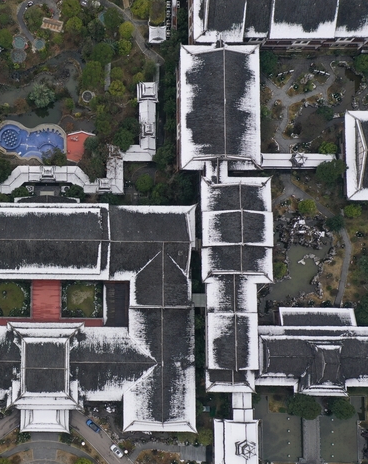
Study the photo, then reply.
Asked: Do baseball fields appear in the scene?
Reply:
No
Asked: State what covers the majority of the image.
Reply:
buildings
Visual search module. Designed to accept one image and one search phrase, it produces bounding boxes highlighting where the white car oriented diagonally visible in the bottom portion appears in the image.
[109,442,124,459]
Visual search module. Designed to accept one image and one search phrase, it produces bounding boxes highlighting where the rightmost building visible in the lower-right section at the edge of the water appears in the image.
[255,308,368,398]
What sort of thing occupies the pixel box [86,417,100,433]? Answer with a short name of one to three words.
car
